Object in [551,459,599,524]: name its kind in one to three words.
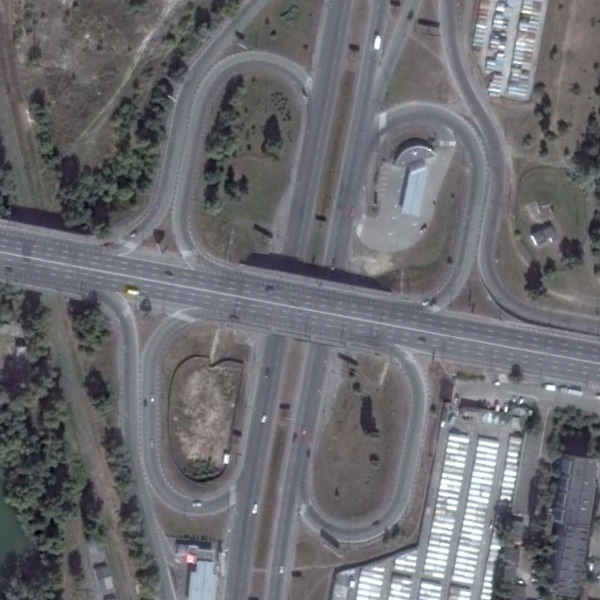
building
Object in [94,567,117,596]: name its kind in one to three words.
shed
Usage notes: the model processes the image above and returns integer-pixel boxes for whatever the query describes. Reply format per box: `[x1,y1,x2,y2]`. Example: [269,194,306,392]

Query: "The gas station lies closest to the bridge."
[396,146,436,217]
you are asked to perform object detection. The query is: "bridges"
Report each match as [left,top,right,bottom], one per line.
[0,219,600,385]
